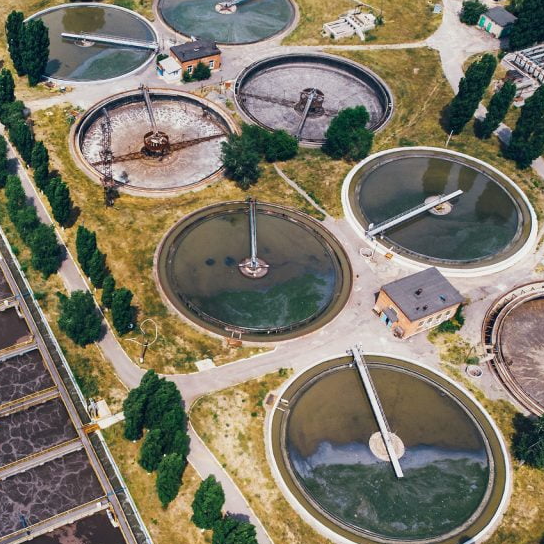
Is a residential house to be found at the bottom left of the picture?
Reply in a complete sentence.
No, I see no residential house at the bottom left of the picture.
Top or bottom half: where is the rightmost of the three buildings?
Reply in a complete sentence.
The rightmost of the three buildings sits in the top half of the picture.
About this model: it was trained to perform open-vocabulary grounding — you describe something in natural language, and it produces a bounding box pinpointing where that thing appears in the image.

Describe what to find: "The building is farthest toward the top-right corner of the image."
[478,8,512,36]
